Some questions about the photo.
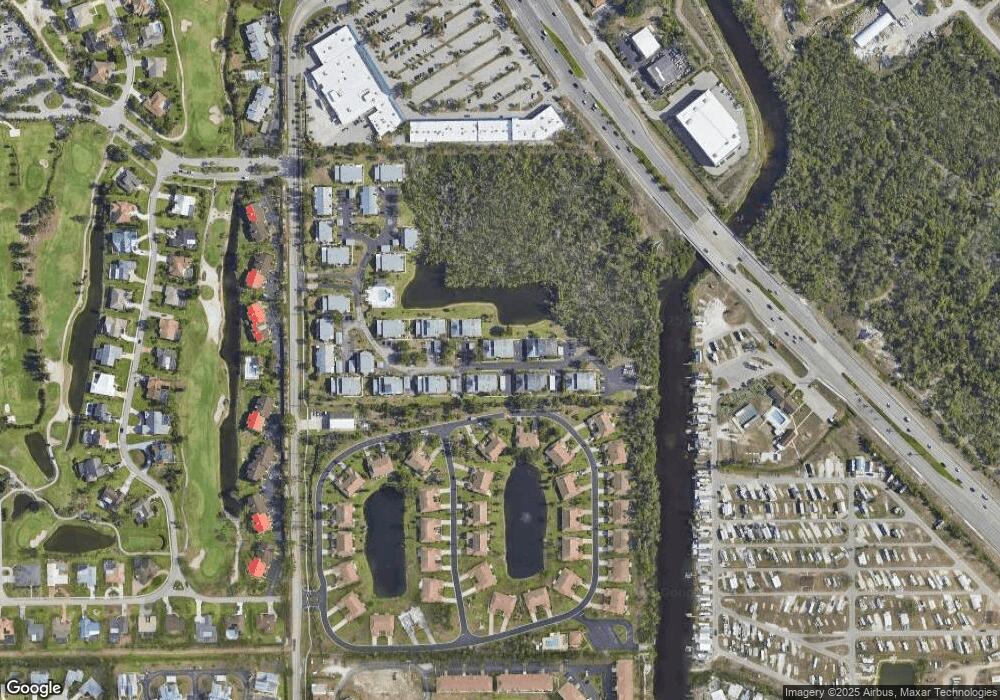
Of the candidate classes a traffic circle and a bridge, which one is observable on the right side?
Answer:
bridge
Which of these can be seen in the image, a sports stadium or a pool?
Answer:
pool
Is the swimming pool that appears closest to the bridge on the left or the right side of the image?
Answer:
right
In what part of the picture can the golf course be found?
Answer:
left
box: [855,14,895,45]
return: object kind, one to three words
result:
shed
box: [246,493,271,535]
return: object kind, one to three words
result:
building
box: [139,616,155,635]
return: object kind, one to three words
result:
house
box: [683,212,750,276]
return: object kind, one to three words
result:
bridge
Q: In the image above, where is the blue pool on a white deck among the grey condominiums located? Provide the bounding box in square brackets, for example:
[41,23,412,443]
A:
[368,287,394,307]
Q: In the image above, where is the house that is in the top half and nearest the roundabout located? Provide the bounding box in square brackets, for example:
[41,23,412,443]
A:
[85,61,114,82]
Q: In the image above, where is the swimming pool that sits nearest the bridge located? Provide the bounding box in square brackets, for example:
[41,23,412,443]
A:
[761,404,788,431]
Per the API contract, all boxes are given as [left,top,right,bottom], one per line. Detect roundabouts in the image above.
[33,87,75,118]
